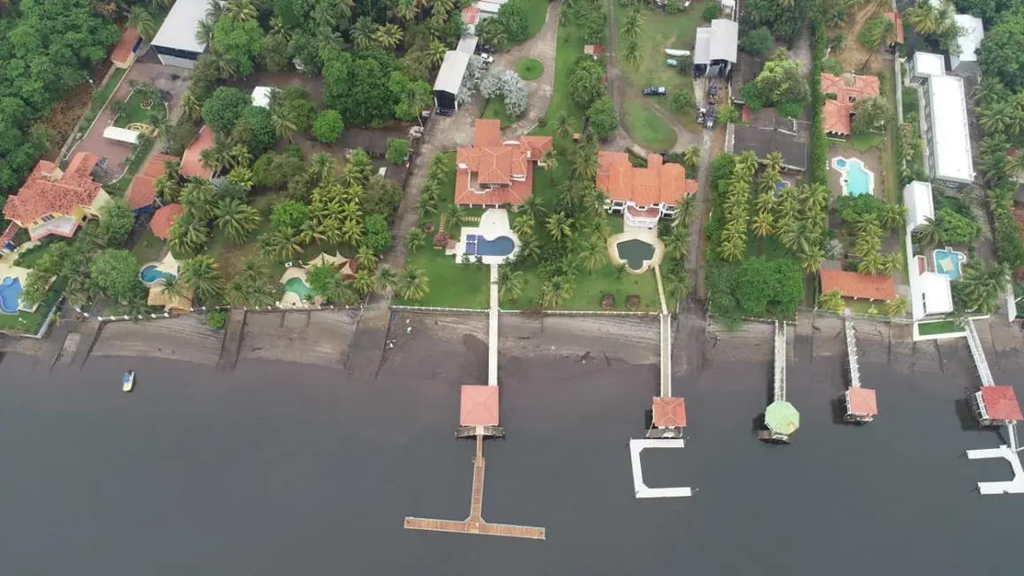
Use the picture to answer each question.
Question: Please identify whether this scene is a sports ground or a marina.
marina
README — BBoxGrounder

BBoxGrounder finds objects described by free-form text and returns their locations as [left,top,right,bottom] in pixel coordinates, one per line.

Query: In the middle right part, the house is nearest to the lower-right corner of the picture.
[922,275,953,317]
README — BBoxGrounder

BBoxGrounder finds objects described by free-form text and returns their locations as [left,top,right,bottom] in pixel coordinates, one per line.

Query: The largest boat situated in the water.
[118,369,133,391]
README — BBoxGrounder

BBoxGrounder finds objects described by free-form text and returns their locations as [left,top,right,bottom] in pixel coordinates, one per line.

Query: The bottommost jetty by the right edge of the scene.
[962,444,1024,497]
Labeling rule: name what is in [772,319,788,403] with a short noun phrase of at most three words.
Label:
pier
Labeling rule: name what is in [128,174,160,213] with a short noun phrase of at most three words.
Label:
house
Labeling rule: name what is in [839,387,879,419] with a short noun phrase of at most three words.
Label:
gazebo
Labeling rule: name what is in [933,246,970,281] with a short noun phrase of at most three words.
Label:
swimming pool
